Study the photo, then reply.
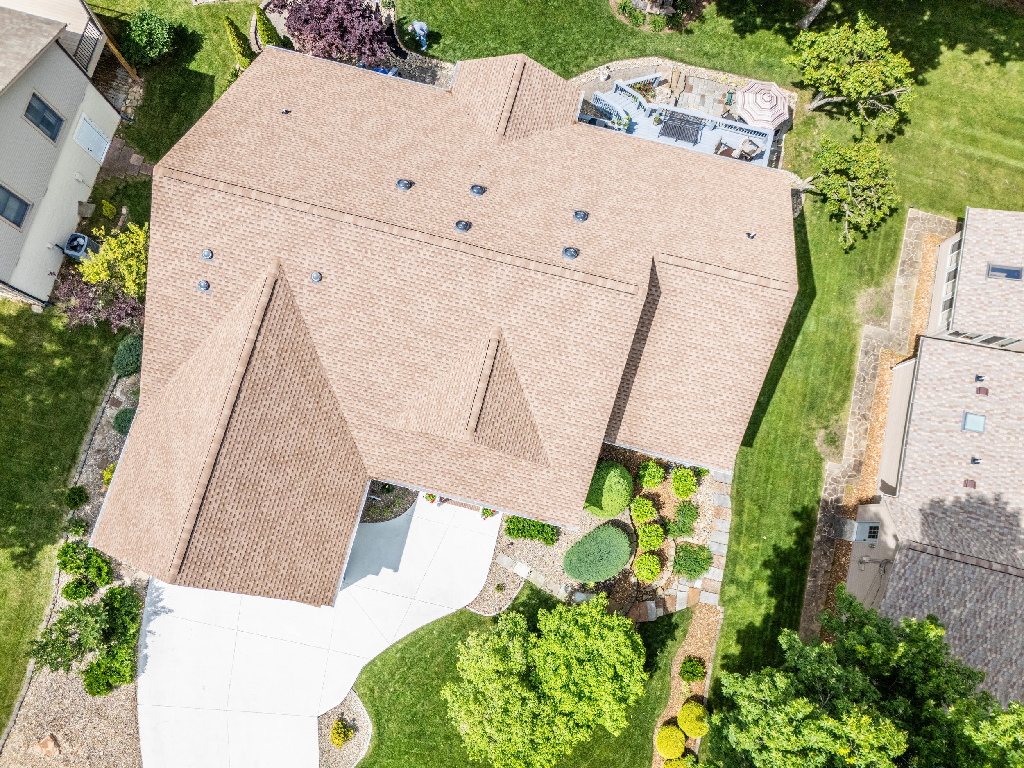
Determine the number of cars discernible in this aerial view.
none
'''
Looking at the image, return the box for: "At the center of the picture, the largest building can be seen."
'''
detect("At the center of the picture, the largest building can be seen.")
[88,42,798,608]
